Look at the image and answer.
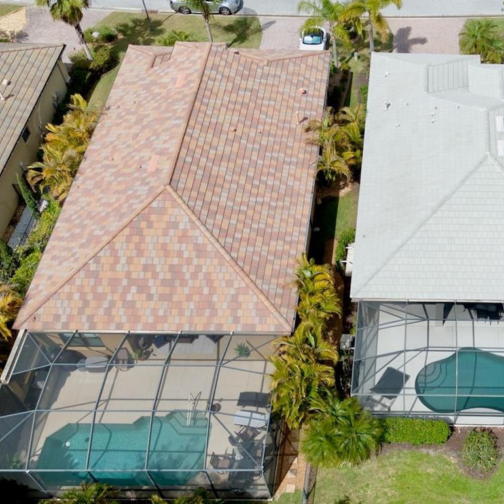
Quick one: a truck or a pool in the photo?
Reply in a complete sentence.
I can see a pool in this picture.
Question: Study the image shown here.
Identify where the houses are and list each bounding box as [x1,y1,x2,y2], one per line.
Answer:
[11,30,330,354]
[348,51,504,329]
[0,42,71,239]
